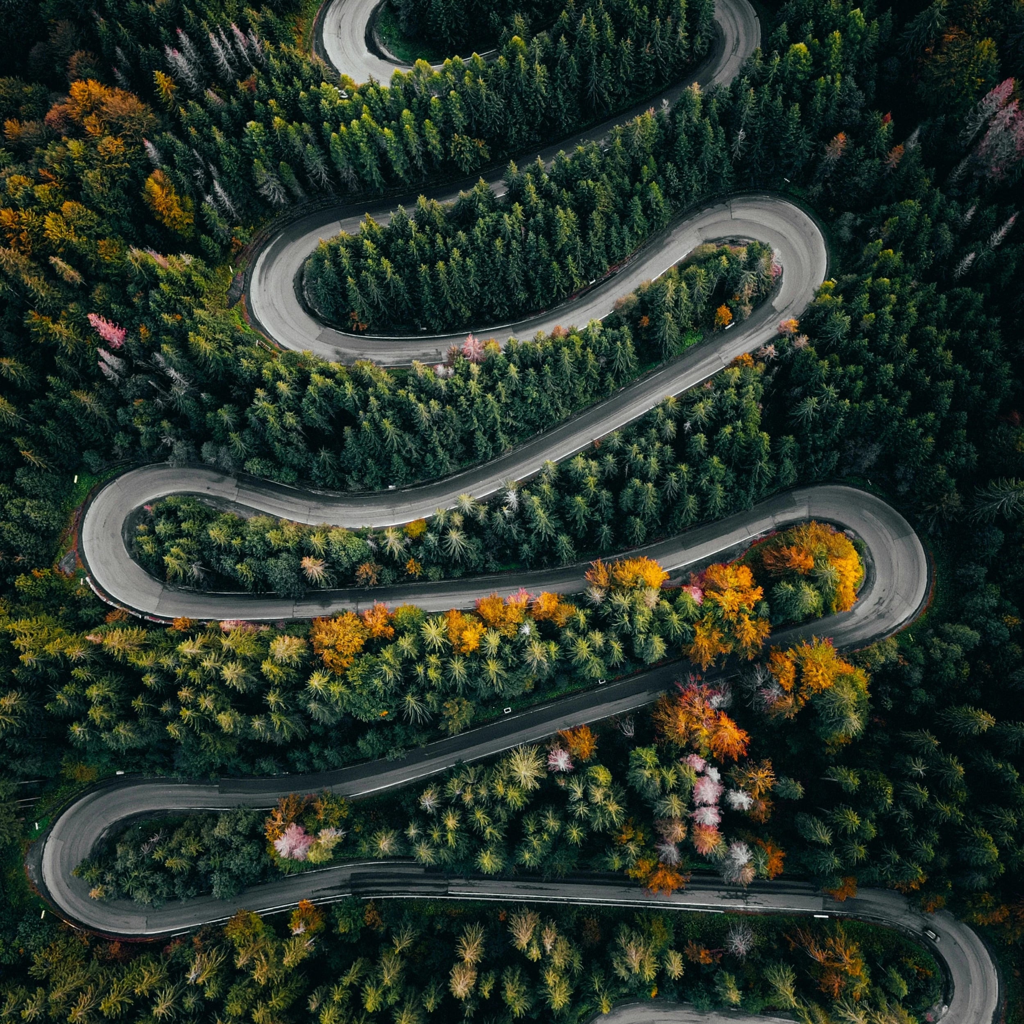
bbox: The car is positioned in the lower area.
[924,928,942,944]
